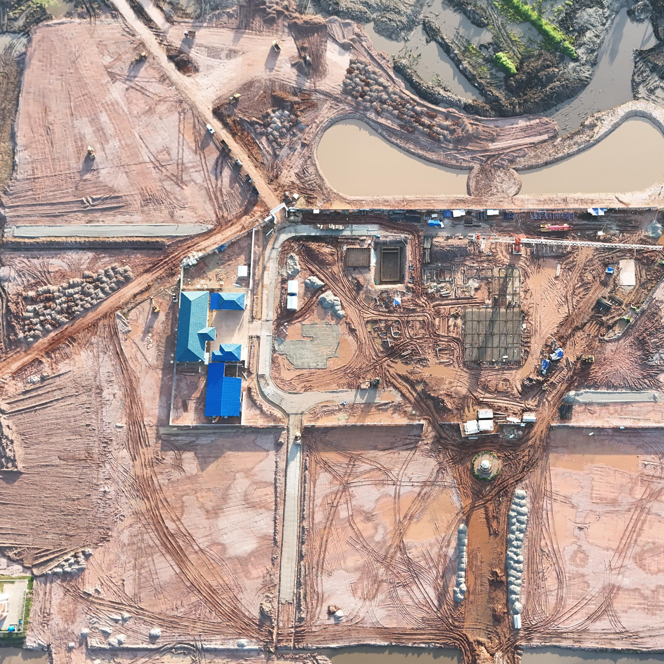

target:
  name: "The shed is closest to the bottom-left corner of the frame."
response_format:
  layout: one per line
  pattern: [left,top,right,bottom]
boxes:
[202,363,244,416]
